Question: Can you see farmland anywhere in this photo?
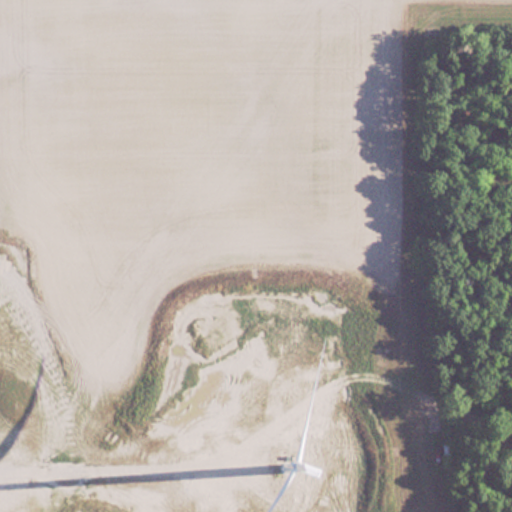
Yes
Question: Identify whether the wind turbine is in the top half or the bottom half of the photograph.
bottom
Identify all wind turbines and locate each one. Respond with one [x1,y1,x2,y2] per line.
[266,339,326,512]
